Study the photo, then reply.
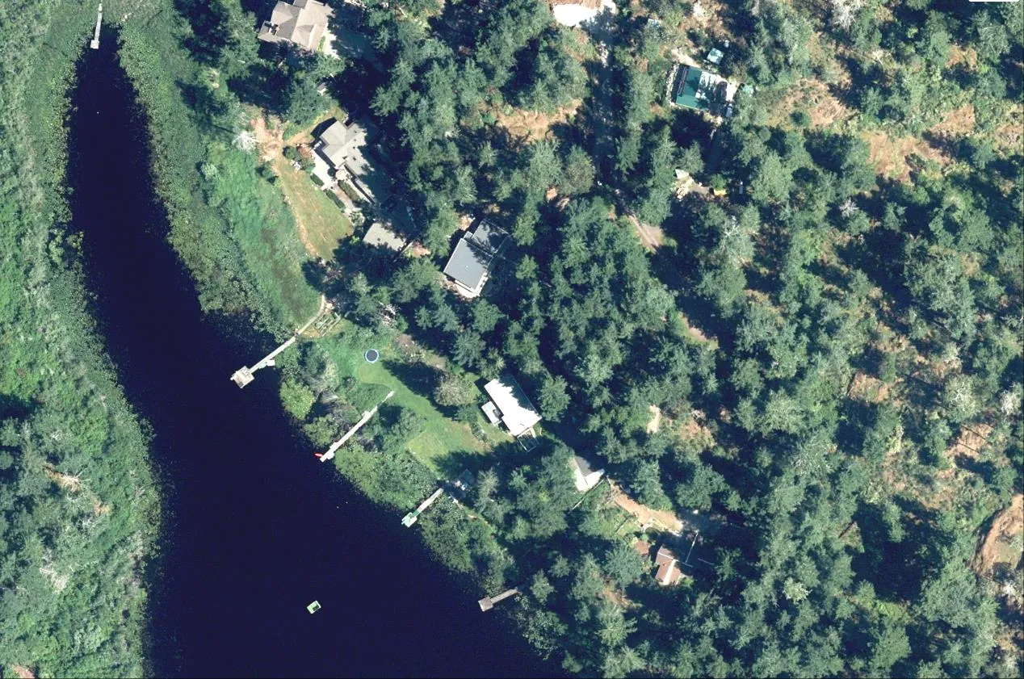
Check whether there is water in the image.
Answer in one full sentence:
Yes, there's water in this view.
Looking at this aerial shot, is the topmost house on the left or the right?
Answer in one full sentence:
You can find the topmost house on the left side of the picture.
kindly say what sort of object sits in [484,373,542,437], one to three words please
house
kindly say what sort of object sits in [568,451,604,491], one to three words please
house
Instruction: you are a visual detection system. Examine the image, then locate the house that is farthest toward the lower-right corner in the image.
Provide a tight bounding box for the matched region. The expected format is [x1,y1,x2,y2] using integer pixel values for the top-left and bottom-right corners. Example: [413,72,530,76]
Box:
[656,546,682,586]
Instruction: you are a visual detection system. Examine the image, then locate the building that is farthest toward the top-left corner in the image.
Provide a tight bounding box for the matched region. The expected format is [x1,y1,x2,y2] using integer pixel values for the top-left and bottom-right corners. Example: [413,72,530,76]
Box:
[258,0,333,52]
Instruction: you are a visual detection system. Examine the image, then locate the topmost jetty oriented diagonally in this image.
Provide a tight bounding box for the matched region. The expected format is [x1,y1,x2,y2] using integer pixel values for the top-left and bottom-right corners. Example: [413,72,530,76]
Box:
[234,336,297,388]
